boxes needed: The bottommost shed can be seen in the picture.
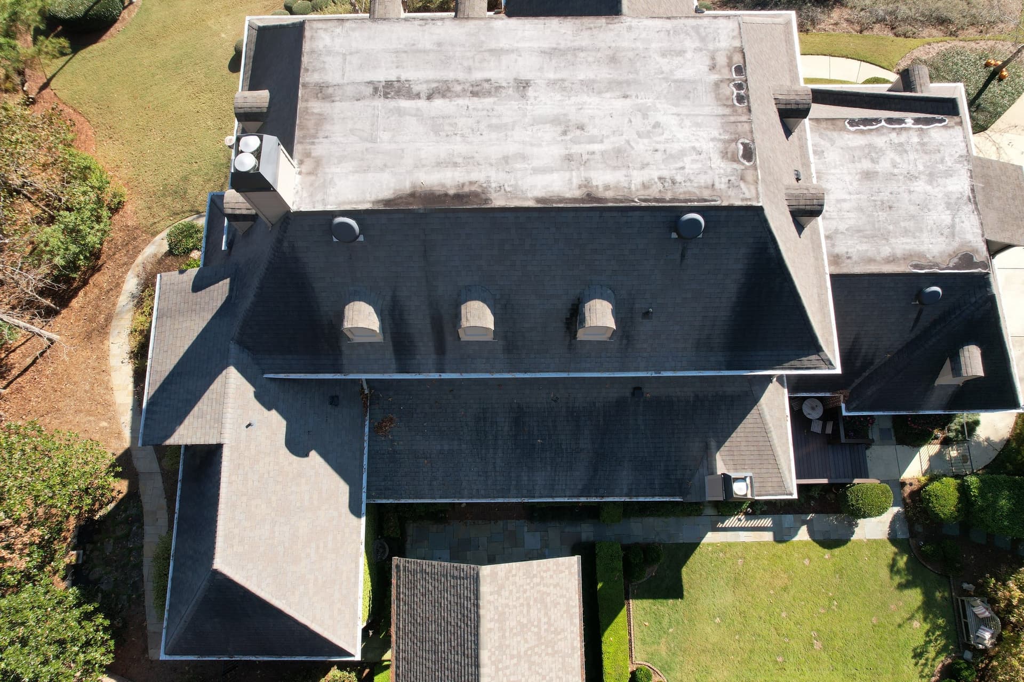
[385,555,588,682]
